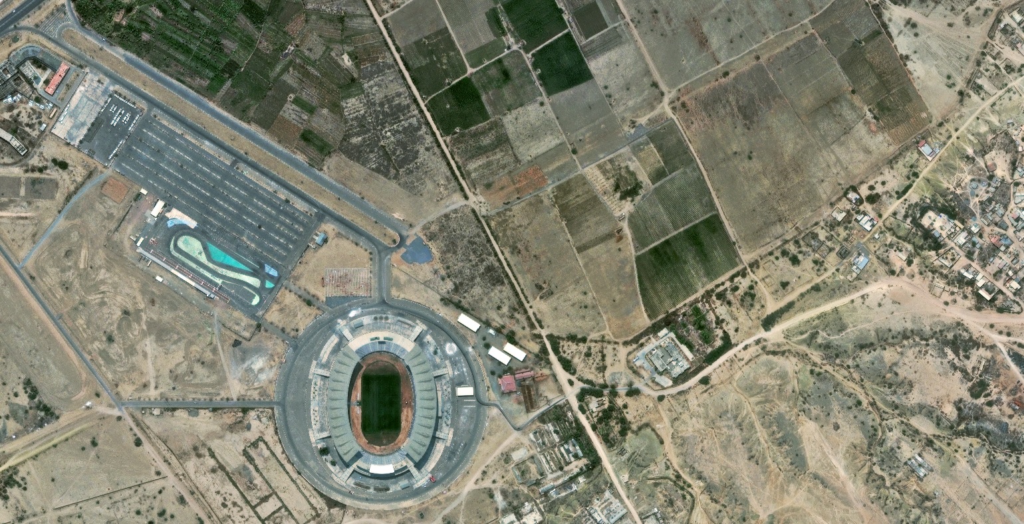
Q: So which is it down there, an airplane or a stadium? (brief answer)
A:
stadium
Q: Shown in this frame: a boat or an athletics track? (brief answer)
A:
athletics track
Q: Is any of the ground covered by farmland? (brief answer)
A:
Yes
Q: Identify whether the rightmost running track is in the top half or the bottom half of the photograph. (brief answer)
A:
bottom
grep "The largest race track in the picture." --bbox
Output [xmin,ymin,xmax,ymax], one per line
[142,208,291,317]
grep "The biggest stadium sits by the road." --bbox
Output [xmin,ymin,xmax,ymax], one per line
[325,330,436,474]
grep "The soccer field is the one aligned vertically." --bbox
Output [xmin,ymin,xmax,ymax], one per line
[361,361,401,446]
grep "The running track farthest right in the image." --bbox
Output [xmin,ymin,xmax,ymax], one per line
[349,351,413,455]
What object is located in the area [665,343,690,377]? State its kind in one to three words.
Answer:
house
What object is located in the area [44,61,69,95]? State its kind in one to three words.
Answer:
building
